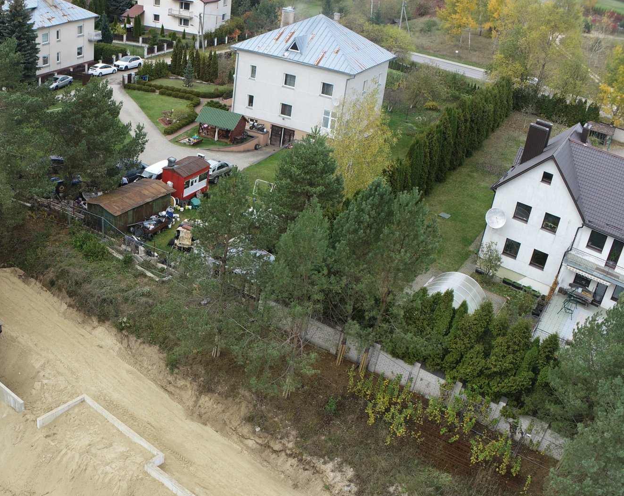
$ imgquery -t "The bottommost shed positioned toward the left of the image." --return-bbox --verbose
[83,176,176,233]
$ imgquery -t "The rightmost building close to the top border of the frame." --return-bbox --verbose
[231,5,393,147]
